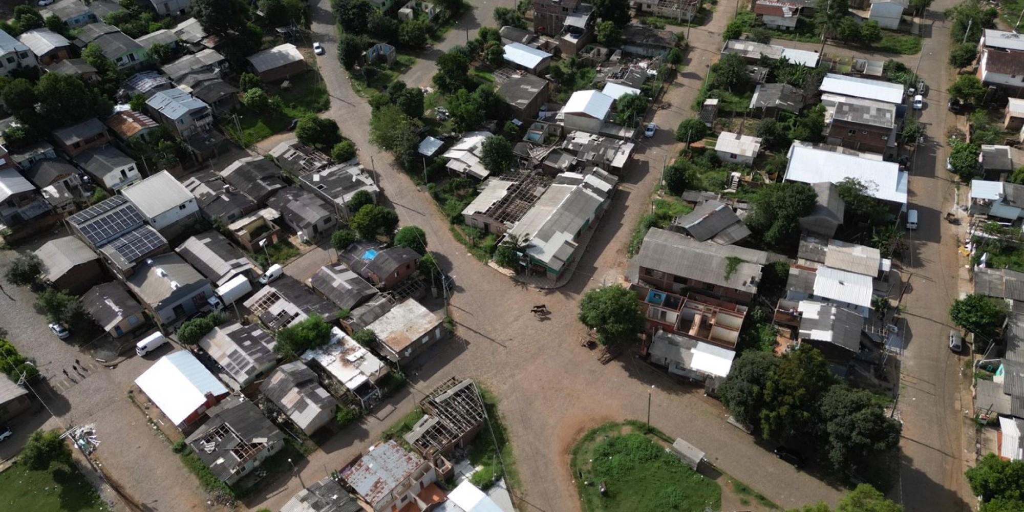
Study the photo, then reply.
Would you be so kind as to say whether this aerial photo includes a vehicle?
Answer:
Yes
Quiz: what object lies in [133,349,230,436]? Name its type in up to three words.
house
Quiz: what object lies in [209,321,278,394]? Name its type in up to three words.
house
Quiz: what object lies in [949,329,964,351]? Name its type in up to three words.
car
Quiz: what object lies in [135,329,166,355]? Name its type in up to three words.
vehicle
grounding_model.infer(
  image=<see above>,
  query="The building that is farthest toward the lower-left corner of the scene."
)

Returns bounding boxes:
[0,371,32,419]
